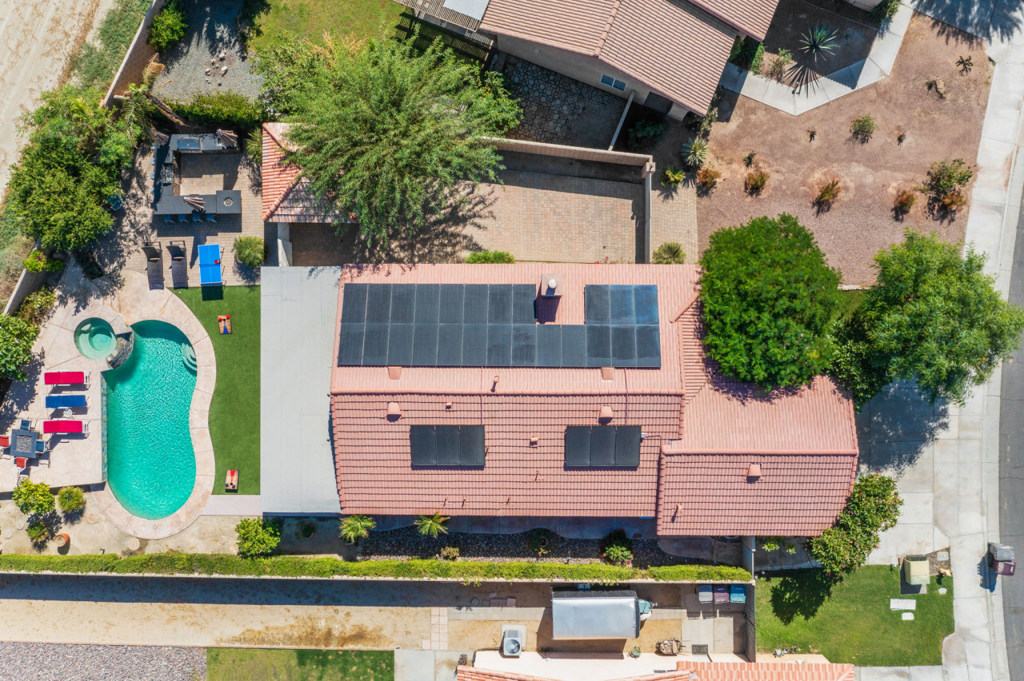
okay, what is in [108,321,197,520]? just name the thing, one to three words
swimming pool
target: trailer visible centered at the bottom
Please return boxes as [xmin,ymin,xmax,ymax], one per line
[550,581,655,640]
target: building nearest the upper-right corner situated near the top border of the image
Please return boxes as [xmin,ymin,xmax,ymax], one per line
[478,0,777,121]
